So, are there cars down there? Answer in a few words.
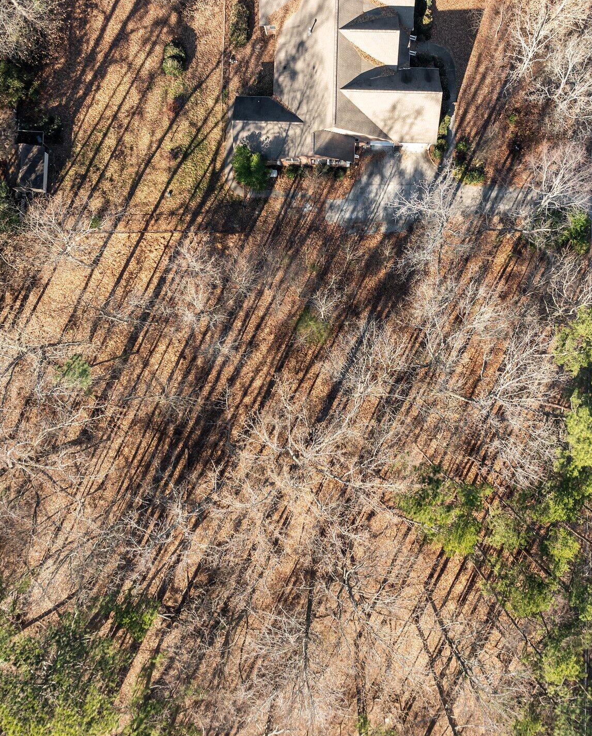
No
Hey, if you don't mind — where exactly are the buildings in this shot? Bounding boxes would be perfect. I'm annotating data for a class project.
[17,122,61,225]
[231,0,442,170]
